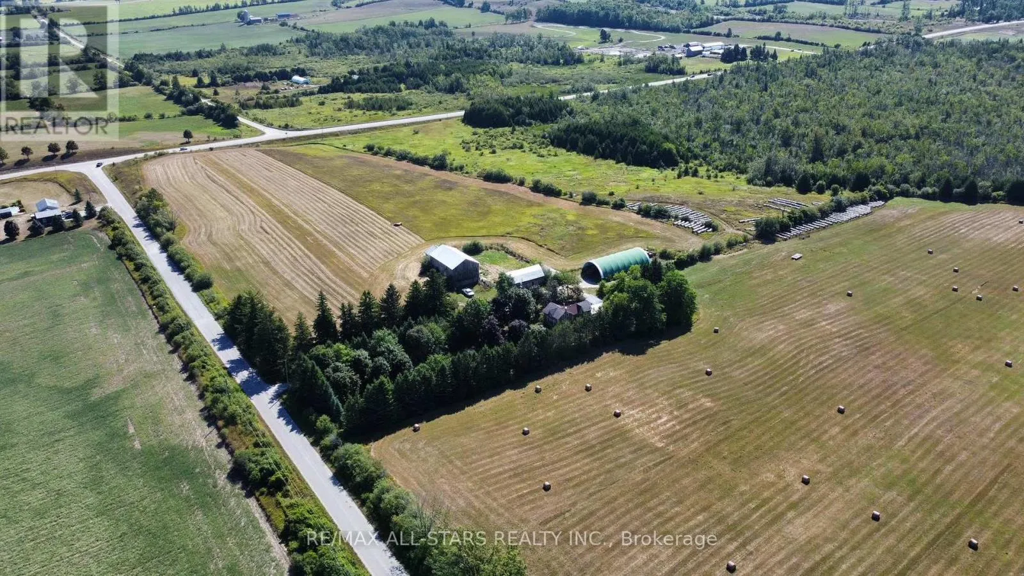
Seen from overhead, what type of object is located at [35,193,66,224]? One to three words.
house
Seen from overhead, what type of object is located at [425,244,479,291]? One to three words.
barn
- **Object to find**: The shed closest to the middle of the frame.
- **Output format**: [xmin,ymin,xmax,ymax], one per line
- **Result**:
[503,265,546,291]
